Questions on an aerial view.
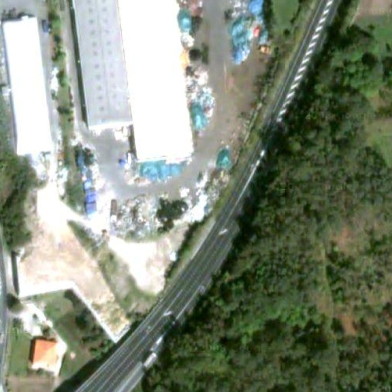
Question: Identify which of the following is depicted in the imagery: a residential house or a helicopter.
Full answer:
Looking from above, you can make out a residential house.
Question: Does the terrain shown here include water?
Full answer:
No, water can't be seen anywhere here.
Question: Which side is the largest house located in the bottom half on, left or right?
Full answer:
The largest house located in the bottom half is on the left side of the image.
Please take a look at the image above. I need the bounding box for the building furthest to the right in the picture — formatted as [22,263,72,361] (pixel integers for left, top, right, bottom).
[119,0,194,162]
